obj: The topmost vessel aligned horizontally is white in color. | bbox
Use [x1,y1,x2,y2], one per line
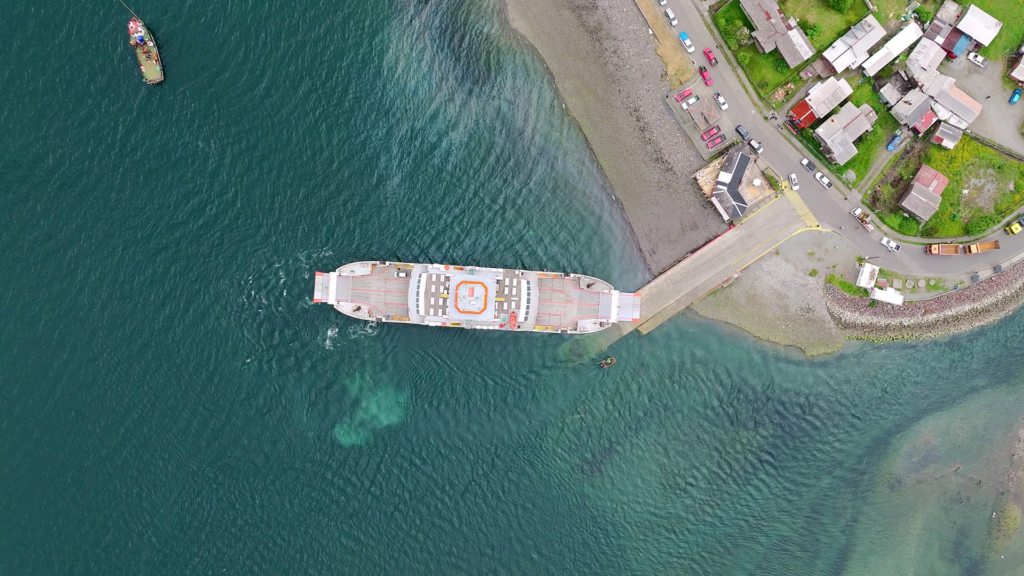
[313,260,640,334]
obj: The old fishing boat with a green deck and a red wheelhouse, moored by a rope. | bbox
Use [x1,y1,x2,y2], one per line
[128,17,165,84]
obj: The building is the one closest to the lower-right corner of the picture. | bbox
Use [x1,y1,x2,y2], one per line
[867,287,904,305]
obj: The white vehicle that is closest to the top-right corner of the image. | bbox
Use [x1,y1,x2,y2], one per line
[967,54,989,68]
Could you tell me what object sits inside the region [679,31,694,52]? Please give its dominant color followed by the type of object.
white vehicle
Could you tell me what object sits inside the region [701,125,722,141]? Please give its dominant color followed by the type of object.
red vehicle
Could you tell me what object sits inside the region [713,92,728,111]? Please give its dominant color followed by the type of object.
white vehicle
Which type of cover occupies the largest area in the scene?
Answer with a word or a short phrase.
water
